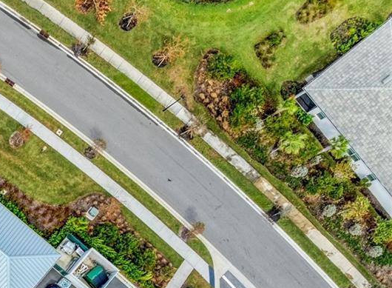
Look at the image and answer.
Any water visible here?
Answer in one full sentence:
No, there's no water in this view.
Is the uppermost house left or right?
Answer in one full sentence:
The uppermost house appears in the right half of the scene.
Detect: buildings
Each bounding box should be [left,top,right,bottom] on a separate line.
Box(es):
[0,204,61,288]
[295,17,392,219]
